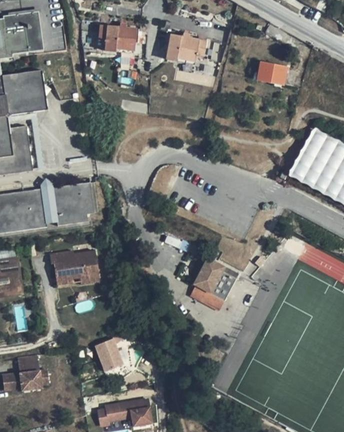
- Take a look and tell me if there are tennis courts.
No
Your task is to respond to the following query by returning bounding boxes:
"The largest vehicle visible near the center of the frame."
[165,236,188,250]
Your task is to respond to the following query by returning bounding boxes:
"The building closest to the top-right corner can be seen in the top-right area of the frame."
[258,62,290,86]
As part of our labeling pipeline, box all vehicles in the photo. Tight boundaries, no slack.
[26,118,32,128]
[300,6,308,16]
[306,8,316,20]
[179,305,188,314]
[52,15,64,21]
[208,186,216,196]
[52,22,62,27]
[192,174,200,186]
[184,198,194,211]
[196,178,204,188]
[179,168,186,178]
[170,298,179,308]
[191,204,198,214]
[50,10,62,15]
[204,184,212,194]
[0,393,9,398]
[165,236,188,250]
[212,24,223,30]
[178,197,187,208]
[184,170,192,182]
[170,192,178,202]
[313,12,322,22]
[192,20,200,27]
[165,28,175,34]
[200,22,212,28]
